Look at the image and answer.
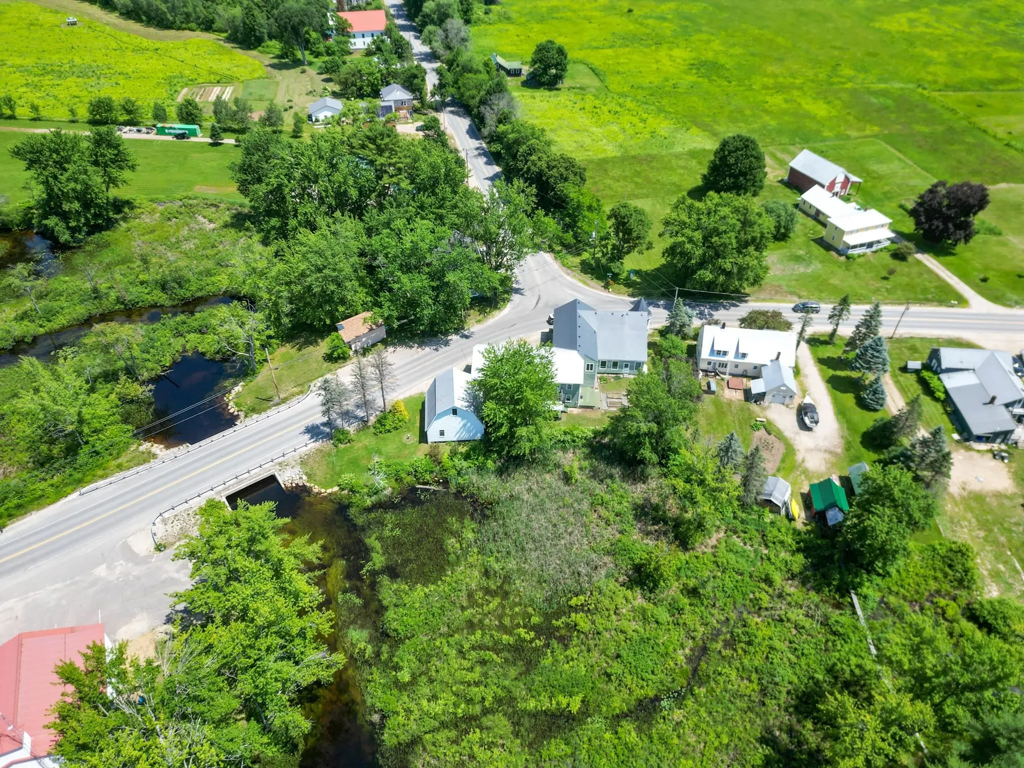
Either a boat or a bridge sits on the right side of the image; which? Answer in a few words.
boat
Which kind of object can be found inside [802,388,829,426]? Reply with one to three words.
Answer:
boat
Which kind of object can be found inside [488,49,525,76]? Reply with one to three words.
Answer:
house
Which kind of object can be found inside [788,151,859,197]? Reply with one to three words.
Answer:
barn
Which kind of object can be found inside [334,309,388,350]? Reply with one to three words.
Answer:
shed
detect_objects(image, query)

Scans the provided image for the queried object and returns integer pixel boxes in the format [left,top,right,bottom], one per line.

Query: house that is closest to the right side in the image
[926,346,1024,441]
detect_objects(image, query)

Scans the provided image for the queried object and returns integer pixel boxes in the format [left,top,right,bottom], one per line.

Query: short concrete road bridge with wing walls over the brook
[192,422,289,513]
